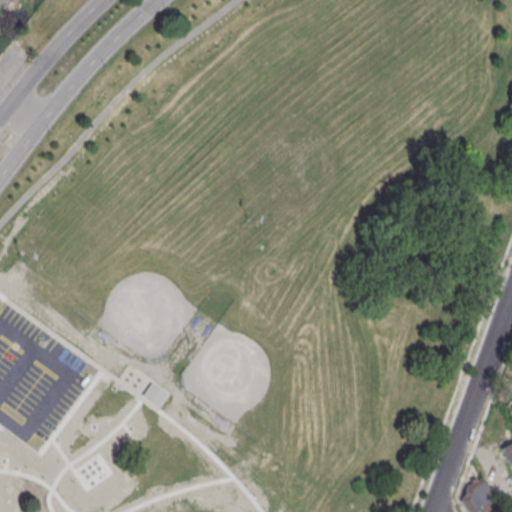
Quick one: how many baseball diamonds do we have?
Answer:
two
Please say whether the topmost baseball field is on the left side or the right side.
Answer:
left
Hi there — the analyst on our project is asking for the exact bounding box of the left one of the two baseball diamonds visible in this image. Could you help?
[98,272,198,360]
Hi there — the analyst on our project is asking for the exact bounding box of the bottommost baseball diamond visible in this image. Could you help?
[182,326,271,423]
